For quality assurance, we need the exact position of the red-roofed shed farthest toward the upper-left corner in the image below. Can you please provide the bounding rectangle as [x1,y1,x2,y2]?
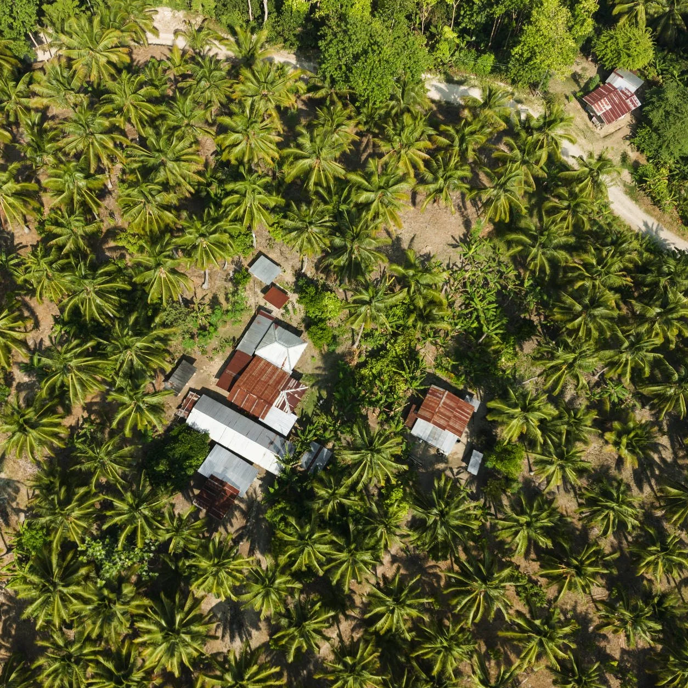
[263,286,289,313]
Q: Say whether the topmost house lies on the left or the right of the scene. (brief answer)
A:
right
